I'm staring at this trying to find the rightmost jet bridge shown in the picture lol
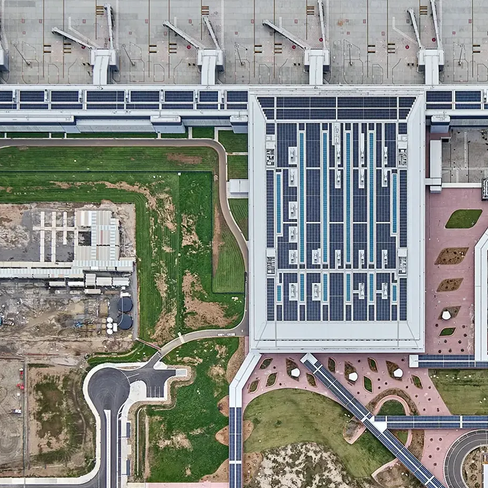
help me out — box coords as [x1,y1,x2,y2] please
[427,0,441,50]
